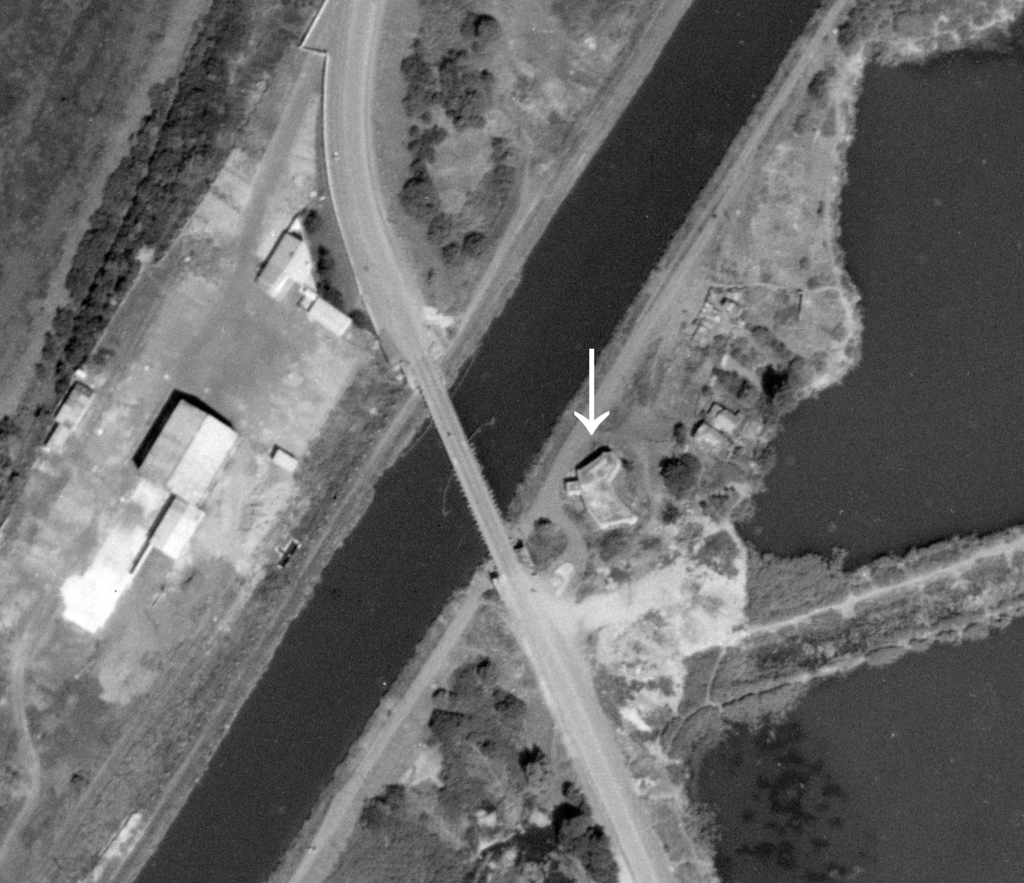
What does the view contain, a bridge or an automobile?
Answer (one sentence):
Visible in the photo is a bridge.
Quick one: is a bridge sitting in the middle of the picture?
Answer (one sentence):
Yes, you'll find a bridge in the middle of the picture.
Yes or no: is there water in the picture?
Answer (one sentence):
Yes, the picture does contain water.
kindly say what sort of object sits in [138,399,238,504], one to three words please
barn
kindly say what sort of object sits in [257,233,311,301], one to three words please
house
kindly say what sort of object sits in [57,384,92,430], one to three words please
house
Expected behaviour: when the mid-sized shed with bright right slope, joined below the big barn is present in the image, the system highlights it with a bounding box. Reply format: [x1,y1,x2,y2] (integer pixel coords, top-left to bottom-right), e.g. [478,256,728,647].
[150,496,204,559]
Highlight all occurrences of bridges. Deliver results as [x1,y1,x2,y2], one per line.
[410,369,525,573]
